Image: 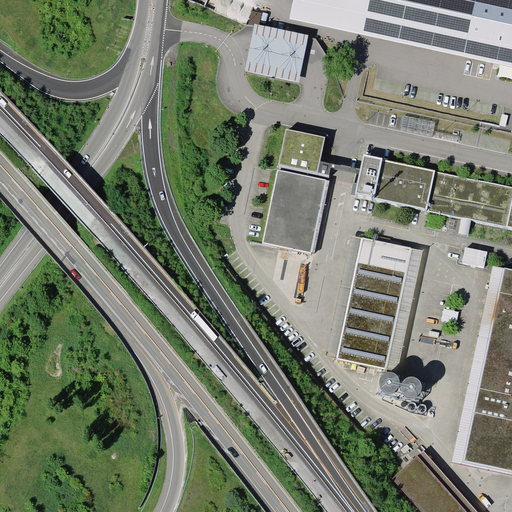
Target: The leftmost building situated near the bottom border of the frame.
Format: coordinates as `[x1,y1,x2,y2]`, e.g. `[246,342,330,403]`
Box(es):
[394,456,466,512]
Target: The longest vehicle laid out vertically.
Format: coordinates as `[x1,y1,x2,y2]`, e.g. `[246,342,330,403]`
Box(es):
[294,266,308,304]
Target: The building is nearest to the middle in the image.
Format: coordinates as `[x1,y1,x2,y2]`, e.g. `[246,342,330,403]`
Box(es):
[264,170,328,254]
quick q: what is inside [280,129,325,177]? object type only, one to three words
building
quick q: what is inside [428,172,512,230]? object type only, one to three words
building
